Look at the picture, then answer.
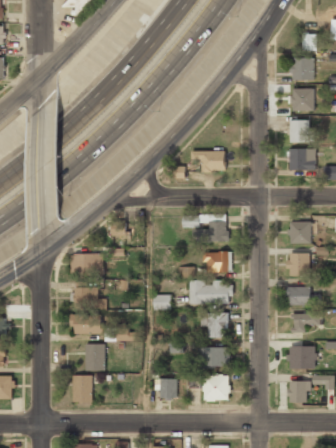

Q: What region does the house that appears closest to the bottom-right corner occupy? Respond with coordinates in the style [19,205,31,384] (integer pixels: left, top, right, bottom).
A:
[290,376,335,404]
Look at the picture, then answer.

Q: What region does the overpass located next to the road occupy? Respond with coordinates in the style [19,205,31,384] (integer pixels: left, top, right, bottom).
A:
[18,70,66,256]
